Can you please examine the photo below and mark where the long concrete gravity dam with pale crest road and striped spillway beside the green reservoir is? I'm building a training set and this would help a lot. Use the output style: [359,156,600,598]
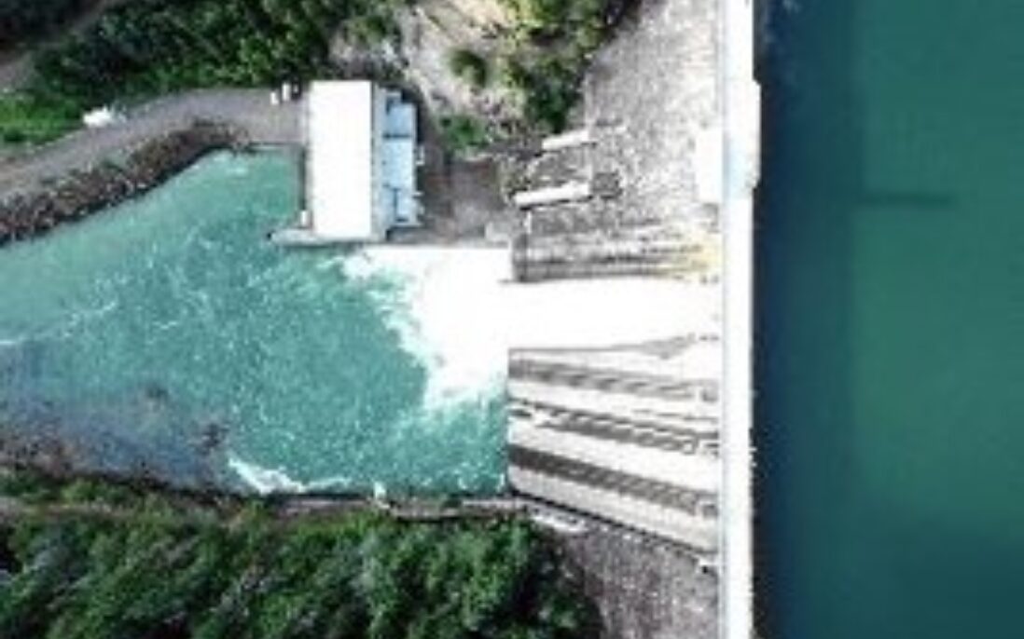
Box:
[499,0,763,639]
